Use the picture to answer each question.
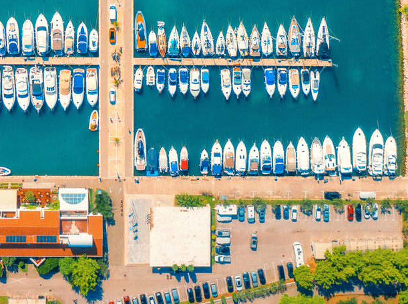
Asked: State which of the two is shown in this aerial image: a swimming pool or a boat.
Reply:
boat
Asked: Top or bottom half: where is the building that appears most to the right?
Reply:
bottom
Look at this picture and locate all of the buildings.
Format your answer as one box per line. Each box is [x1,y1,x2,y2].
[149,204,210,267]
[0,180,103,256]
